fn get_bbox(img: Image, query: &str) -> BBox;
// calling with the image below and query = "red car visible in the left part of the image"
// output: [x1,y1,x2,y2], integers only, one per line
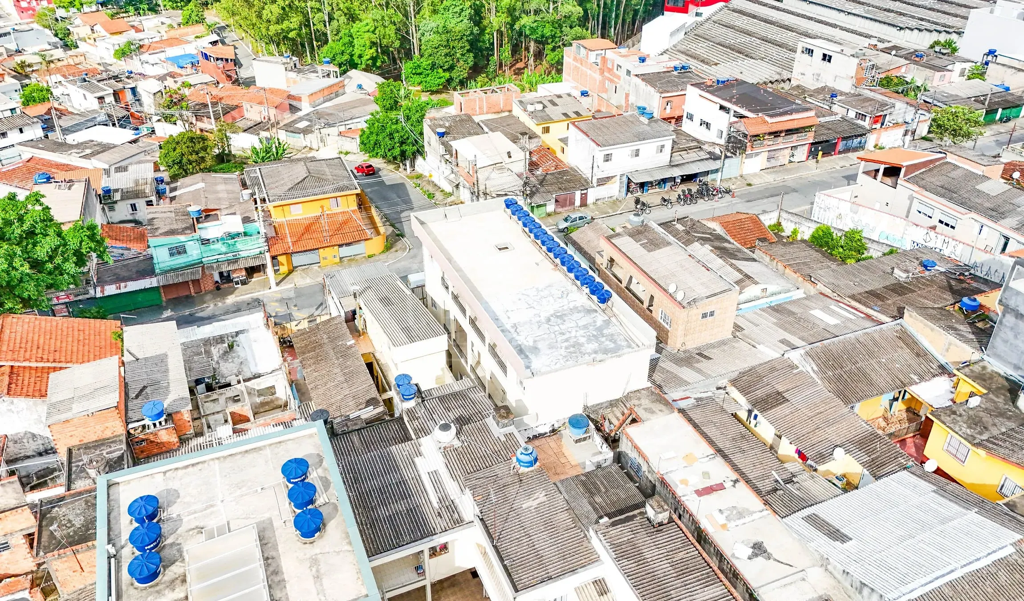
[354,159,376,174]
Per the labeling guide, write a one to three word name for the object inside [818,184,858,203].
house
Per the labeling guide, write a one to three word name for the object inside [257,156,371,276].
house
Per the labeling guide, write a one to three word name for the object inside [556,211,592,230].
car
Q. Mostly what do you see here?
buildings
